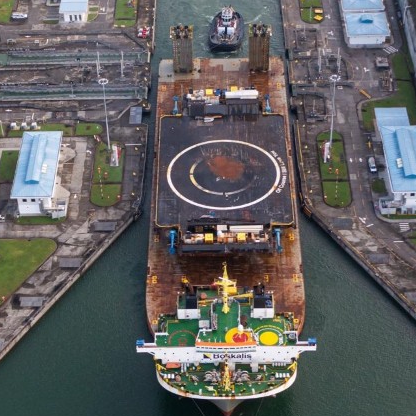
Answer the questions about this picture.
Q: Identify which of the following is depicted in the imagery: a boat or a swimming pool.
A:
boat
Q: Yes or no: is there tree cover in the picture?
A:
No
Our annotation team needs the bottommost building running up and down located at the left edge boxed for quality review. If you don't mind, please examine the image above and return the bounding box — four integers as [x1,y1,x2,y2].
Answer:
[10,123,62,212]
